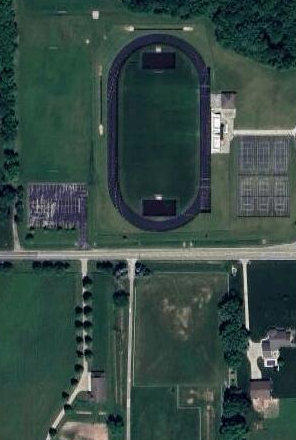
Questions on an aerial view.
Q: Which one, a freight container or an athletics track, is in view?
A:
athletics track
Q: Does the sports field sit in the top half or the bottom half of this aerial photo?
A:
top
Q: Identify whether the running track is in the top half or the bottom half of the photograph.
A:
top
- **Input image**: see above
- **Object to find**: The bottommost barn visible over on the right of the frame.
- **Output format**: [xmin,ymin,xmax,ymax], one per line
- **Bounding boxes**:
[250,380,272,398]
